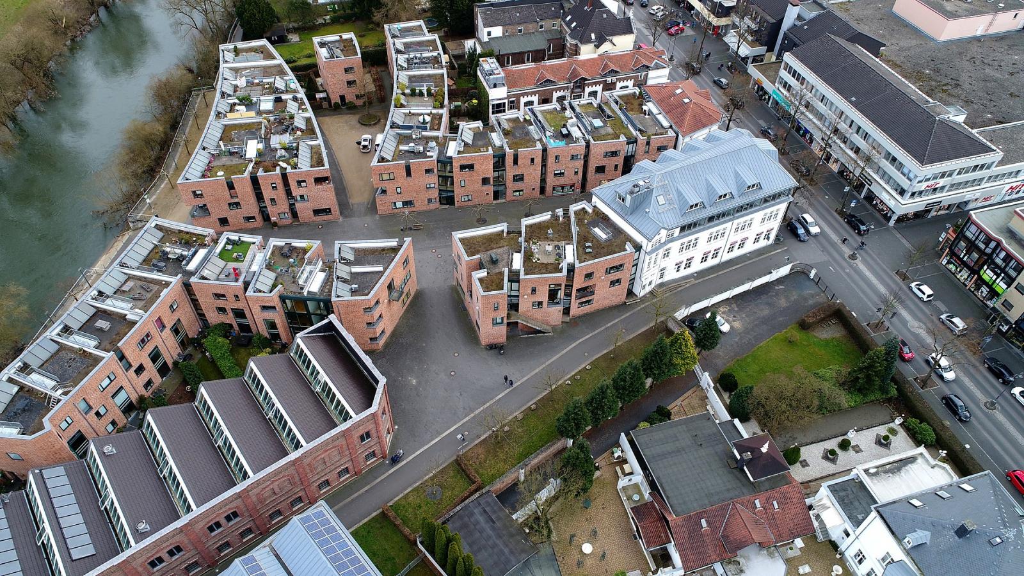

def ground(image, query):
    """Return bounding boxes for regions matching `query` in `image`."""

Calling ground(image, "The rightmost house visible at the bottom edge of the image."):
[849,469,1024,576]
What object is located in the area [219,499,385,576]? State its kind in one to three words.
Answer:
building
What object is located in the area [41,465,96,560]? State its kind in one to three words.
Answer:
solar panel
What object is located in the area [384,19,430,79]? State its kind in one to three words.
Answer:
house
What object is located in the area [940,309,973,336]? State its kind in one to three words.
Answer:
car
